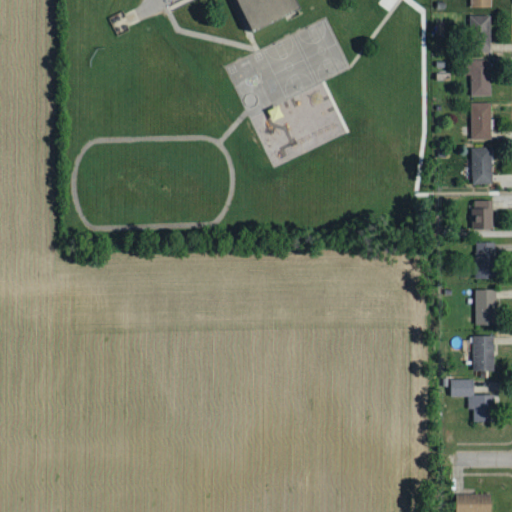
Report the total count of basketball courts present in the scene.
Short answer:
2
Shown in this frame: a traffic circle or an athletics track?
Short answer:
athletics track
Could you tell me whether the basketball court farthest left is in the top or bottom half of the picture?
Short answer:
top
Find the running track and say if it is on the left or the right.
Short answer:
left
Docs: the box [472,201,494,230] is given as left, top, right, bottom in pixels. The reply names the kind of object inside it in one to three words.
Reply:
house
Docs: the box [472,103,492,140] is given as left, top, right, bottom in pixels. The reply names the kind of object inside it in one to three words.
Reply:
house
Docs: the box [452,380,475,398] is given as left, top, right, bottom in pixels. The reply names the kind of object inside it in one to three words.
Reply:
building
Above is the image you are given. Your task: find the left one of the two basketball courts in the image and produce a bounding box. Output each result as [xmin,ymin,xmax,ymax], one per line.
[264,35,316,97]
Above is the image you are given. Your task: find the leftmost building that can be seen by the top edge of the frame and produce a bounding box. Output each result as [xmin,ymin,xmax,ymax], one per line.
[238,0,304,31]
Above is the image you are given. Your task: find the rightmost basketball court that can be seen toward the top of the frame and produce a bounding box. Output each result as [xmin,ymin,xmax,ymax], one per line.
[296,20,348,81]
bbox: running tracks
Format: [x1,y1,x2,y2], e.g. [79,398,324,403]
[72,134,235,232]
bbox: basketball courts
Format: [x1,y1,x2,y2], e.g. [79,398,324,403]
[264,35,316,97]
[296,20,348,81]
